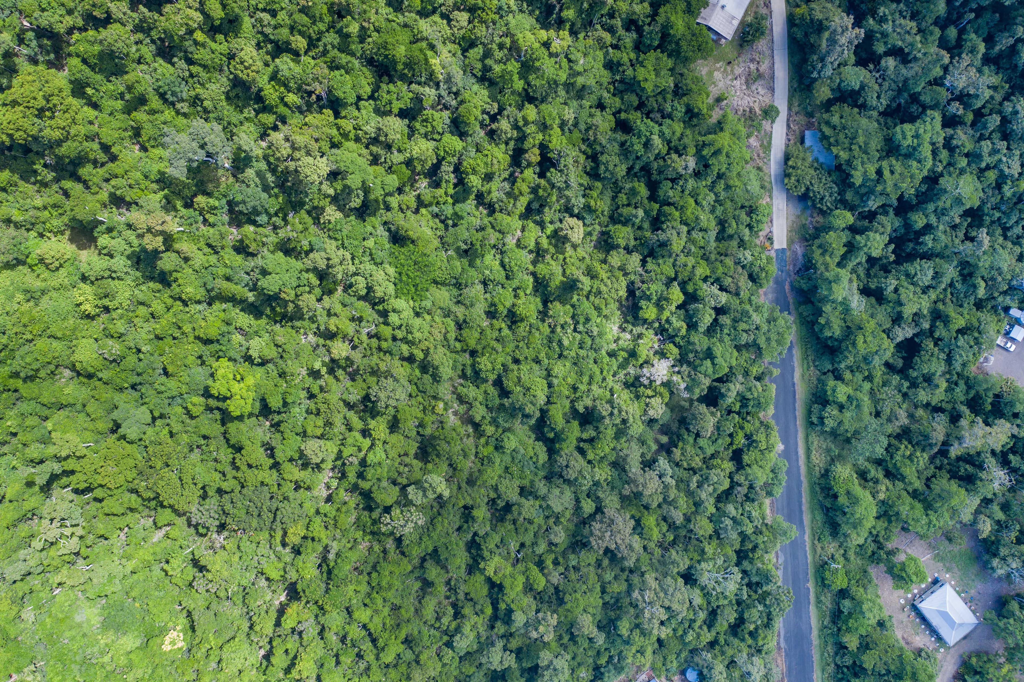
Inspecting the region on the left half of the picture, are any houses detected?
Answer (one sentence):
No, no house can be made out on the left half of the picture.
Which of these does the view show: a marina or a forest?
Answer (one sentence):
The area seen from above is a forest.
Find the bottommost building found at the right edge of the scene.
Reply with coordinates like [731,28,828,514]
[909,579,979,647]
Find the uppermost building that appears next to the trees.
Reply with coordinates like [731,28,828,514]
[700,0,751,45]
